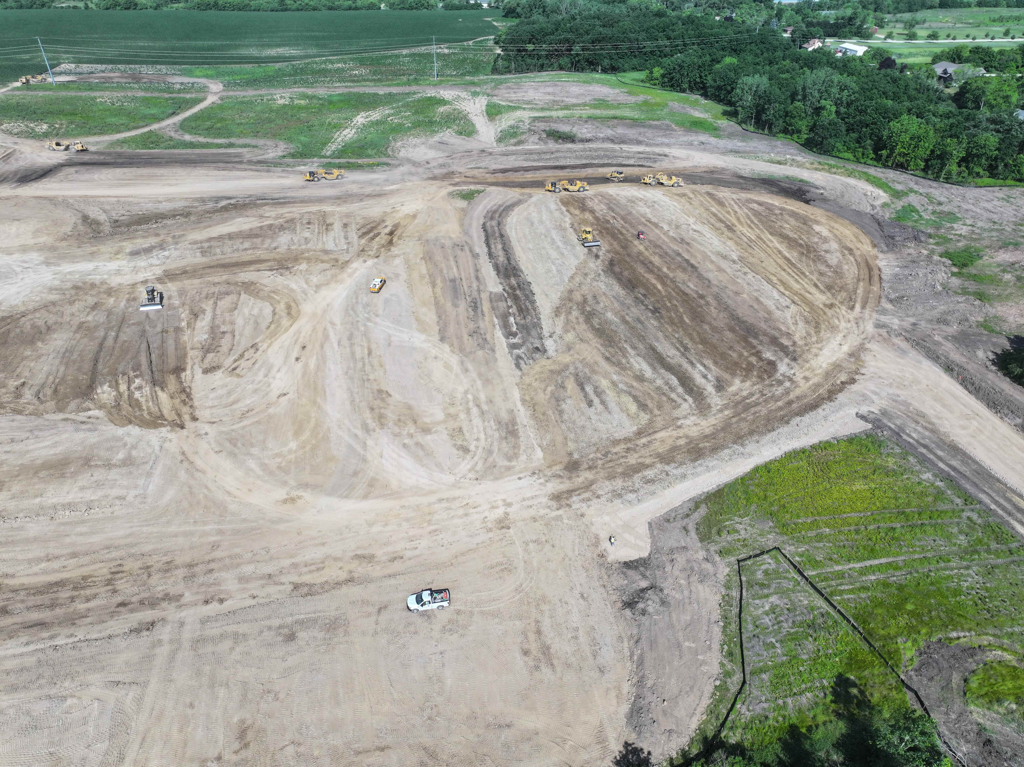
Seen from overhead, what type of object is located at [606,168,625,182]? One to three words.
work vehicle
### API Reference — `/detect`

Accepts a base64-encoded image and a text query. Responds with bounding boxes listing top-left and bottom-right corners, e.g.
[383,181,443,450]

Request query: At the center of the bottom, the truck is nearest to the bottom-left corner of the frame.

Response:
[404,588,453,613]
